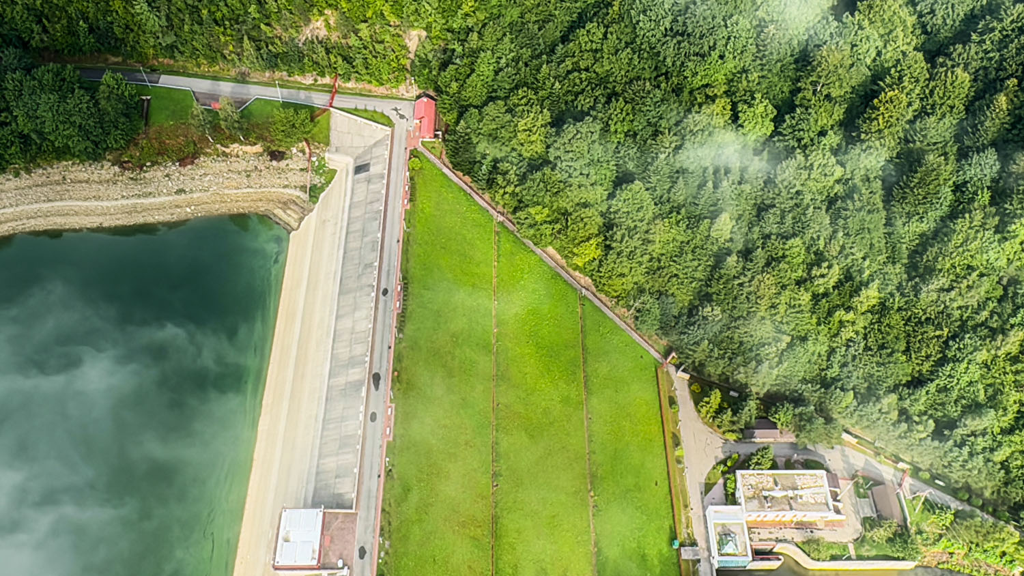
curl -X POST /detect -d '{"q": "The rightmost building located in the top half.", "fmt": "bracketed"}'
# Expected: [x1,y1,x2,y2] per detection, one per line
[414,97,435,143]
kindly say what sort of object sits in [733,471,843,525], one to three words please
building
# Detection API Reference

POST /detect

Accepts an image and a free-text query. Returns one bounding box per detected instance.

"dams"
[236,107,683,576]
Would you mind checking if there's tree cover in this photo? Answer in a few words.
Yes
